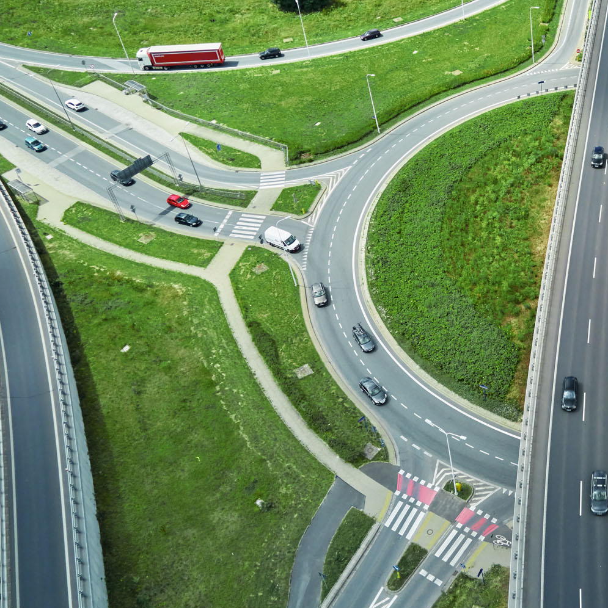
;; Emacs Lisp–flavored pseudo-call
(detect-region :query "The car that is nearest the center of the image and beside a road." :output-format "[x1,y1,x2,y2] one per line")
[310,279,327,306]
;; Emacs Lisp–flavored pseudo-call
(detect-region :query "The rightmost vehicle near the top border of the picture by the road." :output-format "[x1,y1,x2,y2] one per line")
[360,26,381,39]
